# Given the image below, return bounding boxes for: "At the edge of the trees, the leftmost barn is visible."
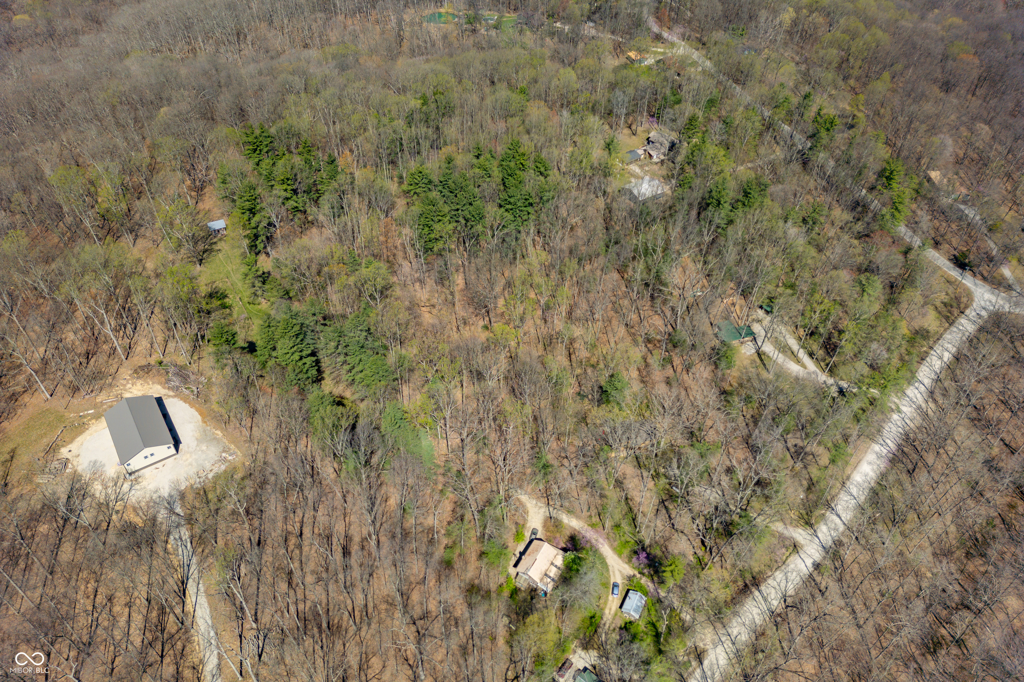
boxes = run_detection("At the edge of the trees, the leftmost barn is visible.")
[105,393,178,472]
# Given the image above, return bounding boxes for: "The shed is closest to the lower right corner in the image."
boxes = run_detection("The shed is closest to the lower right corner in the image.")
[622,590,646,620]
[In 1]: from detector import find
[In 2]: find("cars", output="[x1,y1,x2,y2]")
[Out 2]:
[528,527,540,542]
[611,581,620,599]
